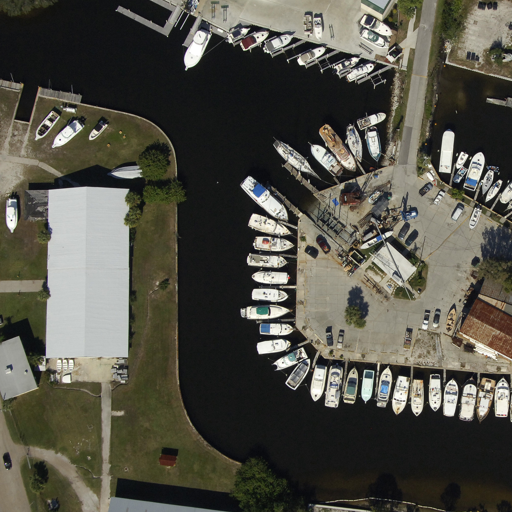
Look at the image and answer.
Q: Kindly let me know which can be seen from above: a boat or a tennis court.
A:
boat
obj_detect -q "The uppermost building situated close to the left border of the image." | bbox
[24,187,131,358]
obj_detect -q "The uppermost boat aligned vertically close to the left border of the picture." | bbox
[6,195,19,234]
